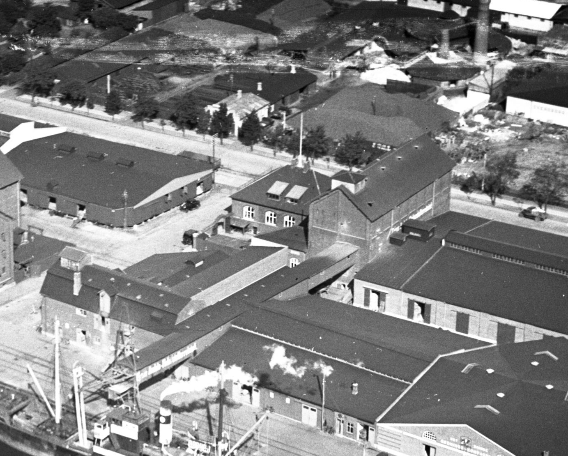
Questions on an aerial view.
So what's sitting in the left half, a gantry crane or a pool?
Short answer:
gantry crane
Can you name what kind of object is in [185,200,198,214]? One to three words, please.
vehicle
